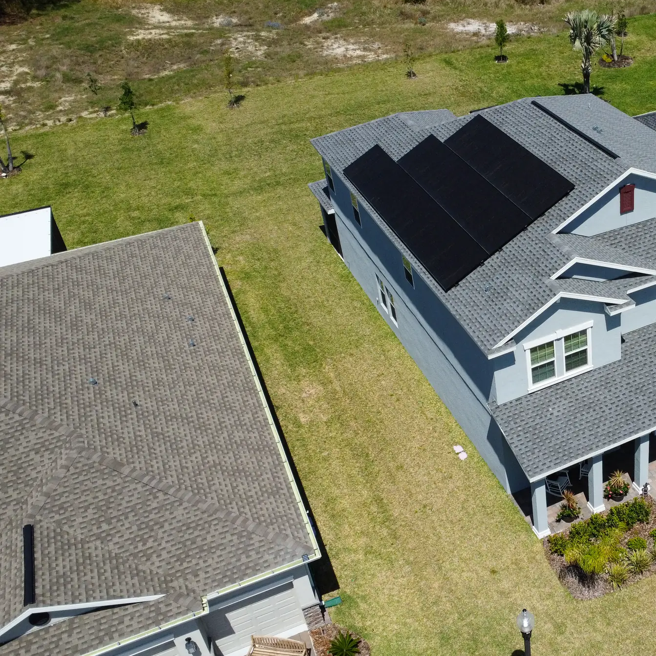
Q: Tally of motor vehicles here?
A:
0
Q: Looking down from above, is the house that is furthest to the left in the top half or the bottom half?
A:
bottom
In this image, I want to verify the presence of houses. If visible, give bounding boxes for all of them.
[308,93,656,538]
[0,208,324,656]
